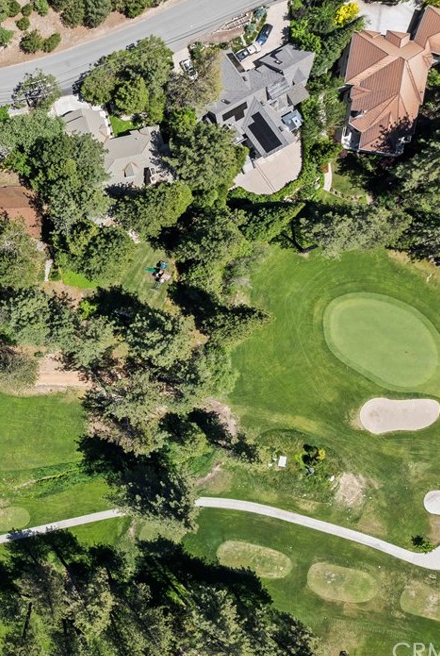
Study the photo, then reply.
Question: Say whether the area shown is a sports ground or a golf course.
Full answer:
What you see here is a golf course.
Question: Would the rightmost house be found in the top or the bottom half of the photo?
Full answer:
You can find the rightmost house in the top half.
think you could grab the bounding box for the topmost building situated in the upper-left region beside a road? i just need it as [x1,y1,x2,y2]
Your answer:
[60,109,171,188]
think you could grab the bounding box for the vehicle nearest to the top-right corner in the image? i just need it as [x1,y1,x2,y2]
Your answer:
[257,19,275,44]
